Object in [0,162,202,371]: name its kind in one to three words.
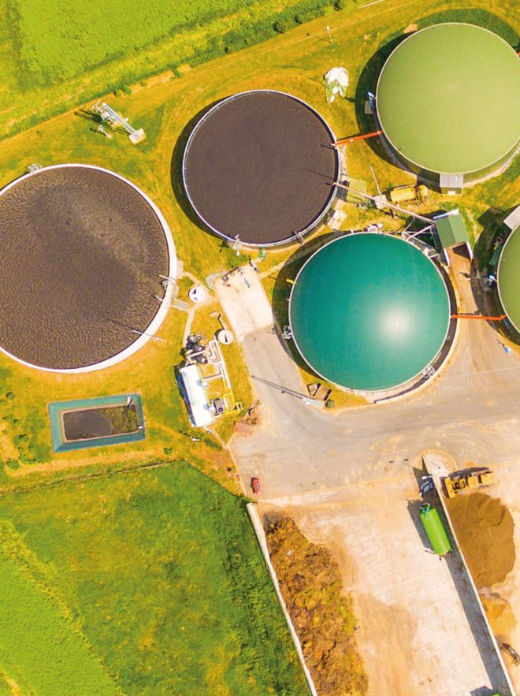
storage tank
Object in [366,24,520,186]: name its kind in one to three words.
storage tank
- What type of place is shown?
industrial area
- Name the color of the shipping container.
white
